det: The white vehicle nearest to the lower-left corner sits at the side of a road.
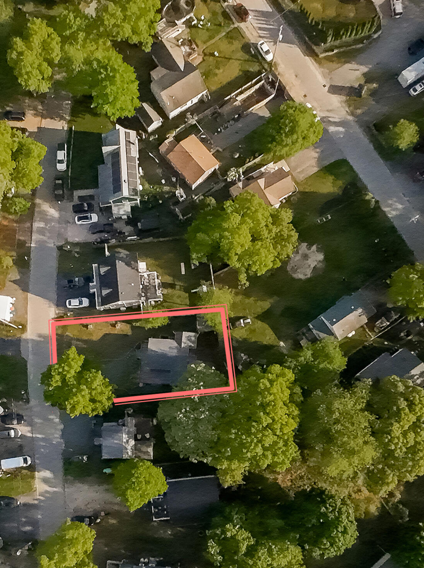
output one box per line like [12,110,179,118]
[0,456,32,469]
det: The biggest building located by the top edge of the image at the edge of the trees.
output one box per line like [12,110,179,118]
[146,14,208,119]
